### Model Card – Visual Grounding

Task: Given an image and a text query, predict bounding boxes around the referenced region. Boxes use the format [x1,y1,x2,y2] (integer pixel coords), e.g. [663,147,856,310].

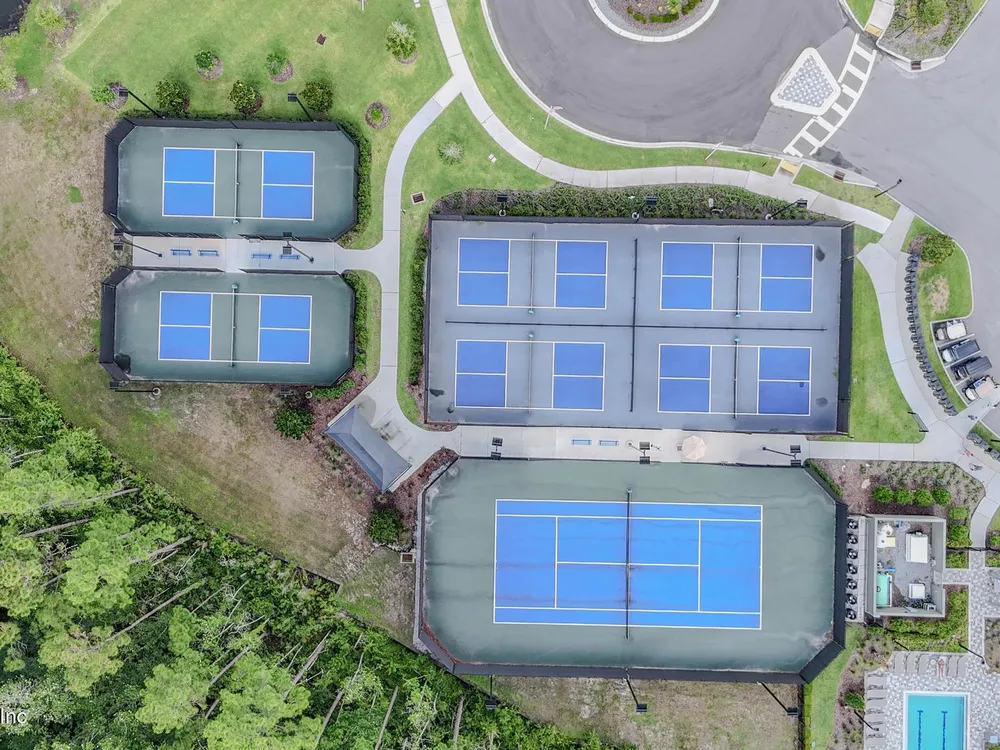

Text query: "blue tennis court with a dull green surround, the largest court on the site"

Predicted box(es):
[423,462,835,672]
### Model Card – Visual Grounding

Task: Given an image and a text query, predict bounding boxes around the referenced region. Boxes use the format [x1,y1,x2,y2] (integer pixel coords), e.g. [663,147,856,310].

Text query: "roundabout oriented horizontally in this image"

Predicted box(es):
[489,0,820,140]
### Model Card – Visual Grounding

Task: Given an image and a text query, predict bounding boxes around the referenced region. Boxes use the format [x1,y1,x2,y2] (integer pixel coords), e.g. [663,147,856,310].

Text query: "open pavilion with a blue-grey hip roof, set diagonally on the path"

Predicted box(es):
[324,404,413,494]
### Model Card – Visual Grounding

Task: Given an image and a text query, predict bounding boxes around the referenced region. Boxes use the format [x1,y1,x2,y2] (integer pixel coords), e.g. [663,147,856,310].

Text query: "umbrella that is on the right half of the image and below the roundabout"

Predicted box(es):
[683,436,707,459]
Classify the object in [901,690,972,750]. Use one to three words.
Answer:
swimming pool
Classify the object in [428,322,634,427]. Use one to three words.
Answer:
sports court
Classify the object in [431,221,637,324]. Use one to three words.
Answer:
sports court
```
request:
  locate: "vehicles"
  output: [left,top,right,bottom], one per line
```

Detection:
[938,343,976,364]
[931,324,967,342]
[961,381,999,404]
[951,360,989,382]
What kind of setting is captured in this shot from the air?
sports ground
